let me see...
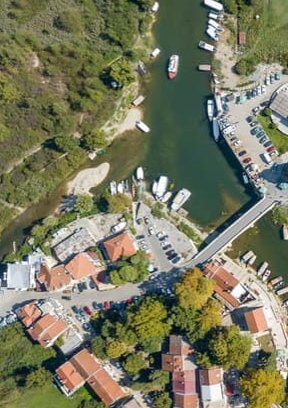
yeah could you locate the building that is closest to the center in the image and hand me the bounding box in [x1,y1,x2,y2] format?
[105,231,140,261]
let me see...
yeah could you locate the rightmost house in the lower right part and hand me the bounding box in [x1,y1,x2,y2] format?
[246,306,269,333]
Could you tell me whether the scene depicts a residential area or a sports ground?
residential area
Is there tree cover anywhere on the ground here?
Yes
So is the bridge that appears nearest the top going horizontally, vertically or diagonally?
diagonally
